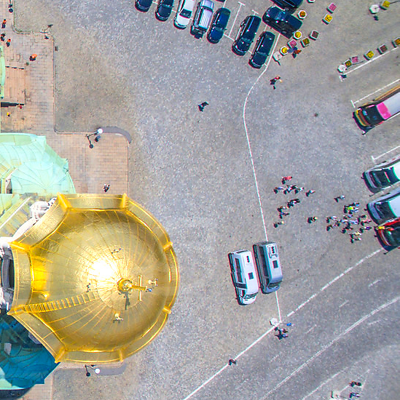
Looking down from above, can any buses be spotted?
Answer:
Yes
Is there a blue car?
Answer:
Yes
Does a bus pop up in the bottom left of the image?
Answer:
No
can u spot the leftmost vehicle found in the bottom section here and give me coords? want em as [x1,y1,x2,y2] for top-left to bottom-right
[230,252,259,301]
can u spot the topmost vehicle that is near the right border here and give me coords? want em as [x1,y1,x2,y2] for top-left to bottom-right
[359,94,400,133]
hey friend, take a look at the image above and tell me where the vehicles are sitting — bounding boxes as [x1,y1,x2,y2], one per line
[134,0,153,11]
[173,0,194,28]
[230,252,259,301]
[274,0,302,11]
[191,0,213,36]
[381,225,400,254]
[207,9,229,43]
[359,94,400,133]
[249,32,275,67]
[263,7,301,35]
[255,243,284,291]
[155,0,174,20]
[233,17,260,53]
[368,162,400,196]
